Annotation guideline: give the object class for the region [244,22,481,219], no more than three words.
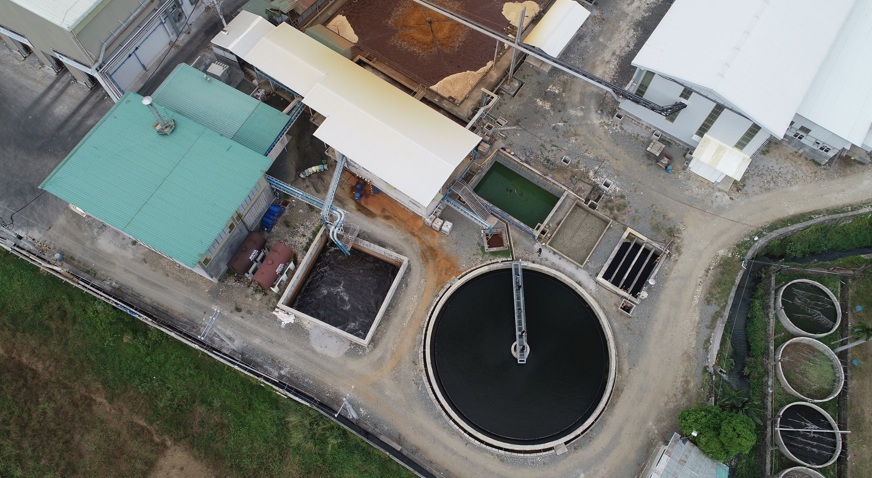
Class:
house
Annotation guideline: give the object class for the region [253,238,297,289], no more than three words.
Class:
storage tank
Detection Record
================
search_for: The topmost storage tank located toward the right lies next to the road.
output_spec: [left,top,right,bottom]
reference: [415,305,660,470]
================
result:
[596,229,671,304]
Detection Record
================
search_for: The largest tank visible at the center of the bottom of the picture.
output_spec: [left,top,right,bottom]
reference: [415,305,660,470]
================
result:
[421,256,617,456]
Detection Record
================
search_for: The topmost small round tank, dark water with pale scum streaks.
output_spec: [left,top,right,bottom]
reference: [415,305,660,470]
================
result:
[774,279,842,341]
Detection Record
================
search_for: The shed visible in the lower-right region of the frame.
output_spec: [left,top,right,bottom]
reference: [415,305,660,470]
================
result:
[648,430,729,478]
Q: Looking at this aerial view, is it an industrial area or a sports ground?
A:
industrial area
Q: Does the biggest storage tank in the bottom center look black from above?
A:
Yes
